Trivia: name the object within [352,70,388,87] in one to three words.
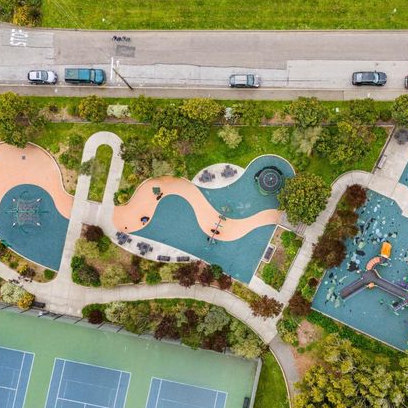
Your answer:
car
